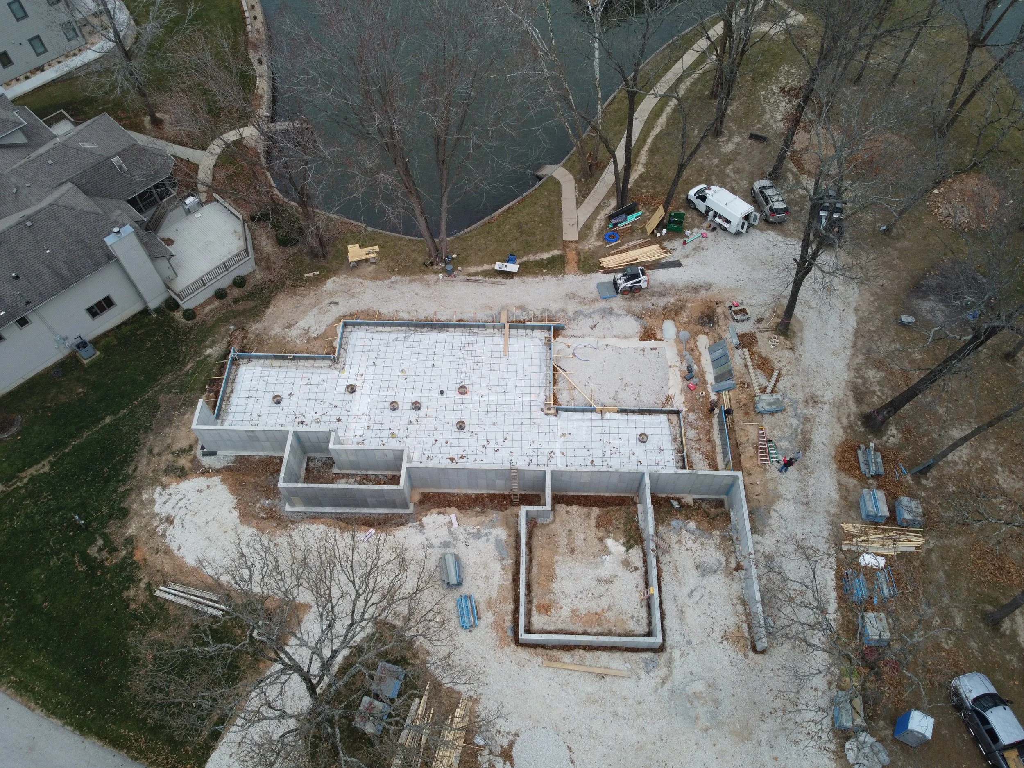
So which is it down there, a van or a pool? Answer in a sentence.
The one in the frame is a van.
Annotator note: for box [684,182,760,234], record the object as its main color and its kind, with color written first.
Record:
white van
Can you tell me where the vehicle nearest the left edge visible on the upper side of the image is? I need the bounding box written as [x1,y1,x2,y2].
[611,260,651,294]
